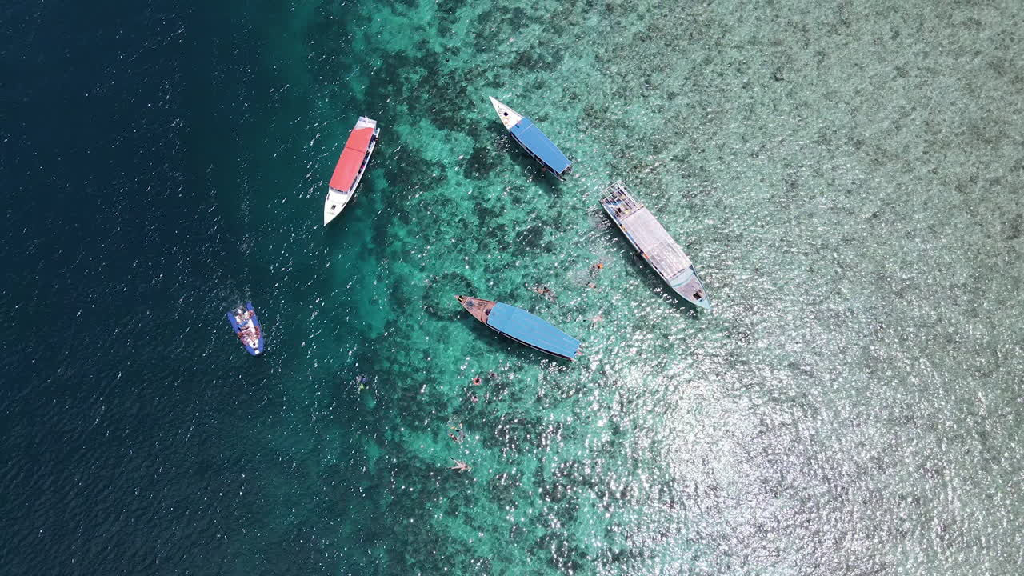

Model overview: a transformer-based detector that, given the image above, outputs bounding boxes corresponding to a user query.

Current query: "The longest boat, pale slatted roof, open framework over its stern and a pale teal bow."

[597,182,711,313]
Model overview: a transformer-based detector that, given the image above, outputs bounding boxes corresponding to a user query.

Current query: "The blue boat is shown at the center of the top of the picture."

[489,95,575,184]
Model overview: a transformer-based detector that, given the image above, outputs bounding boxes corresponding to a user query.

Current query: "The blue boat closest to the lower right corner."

[454,294,581,364]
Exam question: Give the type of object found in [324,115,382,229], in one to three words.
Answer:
boat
